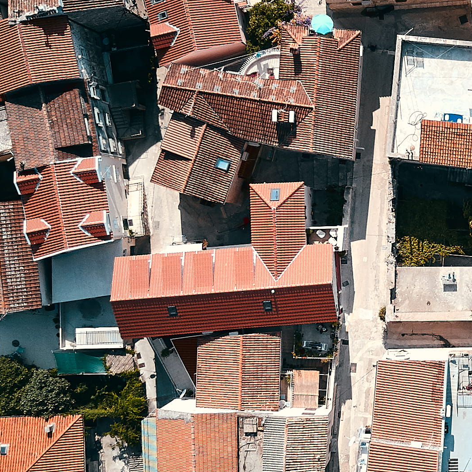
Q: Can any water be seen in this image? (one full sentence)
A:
No, no water is visible.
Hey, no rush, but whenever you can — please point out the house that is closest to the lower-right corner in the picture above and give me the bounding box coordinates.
[367,350,451,472]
